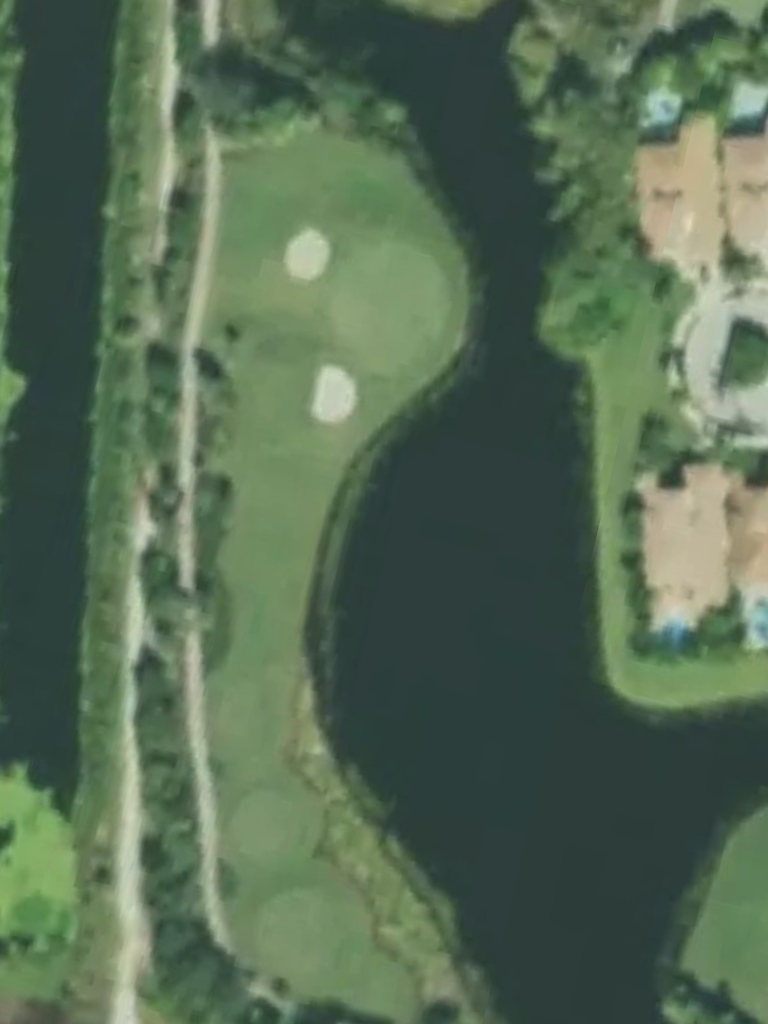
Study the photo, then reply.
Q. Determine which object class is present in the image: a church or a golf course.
golf course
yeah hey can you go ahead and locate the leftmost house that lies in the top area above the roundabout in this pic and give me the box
[637,112,727,284]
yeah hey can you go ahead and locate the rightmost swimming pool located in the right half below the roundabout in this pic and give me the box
[738,584,768,649]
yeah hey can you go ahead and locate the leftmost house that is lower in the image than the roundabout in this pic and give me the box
[638,464,734,630]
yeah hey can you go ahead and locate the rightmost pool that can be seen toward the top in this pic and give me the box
[731,81,768,137]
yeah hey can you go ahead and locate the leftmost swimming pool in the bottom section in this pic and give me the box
[657,615,697,652]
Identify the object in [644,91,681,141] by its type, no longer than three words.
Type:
swimming pool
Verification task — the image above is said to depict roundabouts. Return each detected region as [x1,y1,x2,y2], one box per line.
[687,284,768,436]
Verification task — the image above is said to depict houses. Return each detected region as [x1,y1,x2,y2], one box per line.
[722,111,768,275]
[637,112,727,284]
[638,464,734,630]
[729,487,768,586]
